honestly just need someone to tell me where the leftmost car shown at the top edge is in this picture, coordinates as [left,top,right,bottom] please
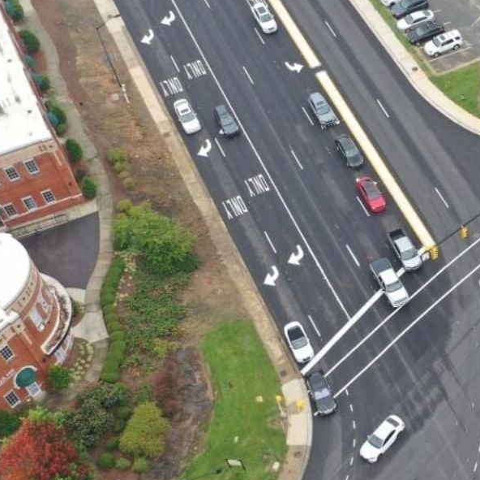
[252,1,278,31]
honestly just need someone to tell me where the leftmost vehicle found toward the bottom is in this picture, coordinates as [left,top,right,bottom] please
[282,320,316,366]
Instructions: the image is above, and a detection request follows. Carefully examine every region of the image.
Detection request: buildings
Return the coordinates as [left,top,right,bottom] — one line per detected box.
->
[0,0,84,226]
[0,228,81,424]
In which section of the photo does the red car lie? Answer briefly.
right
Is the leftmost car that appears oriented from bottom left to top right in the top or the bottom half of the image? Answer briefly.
bottom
